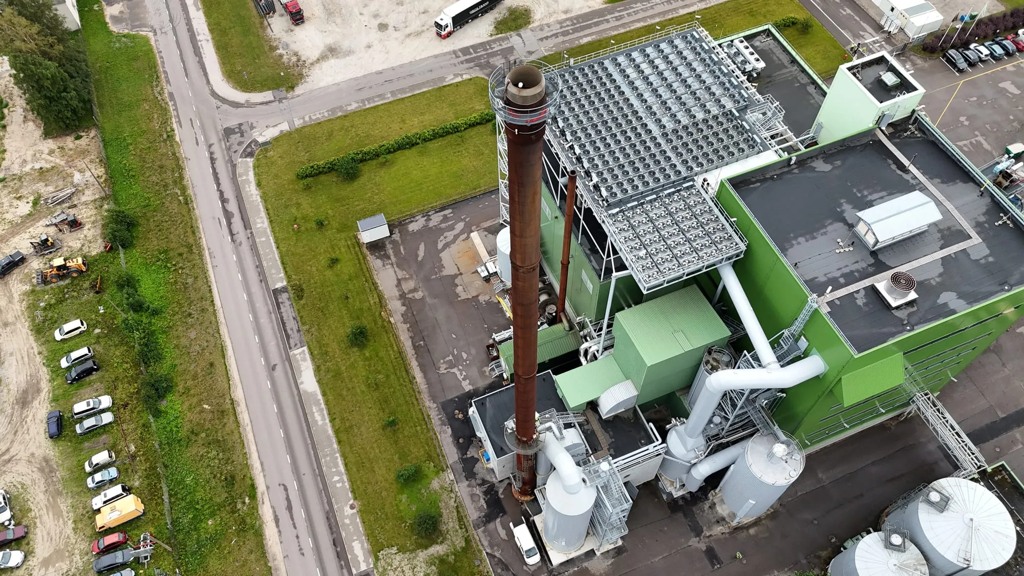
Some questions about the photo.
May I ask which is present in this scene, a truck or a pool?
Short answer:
truck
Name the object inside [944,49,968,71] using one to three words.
car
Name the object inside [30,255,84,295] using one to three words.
work vehicle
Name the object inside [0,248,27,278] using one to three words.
truck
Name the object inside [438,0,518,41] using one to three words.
truck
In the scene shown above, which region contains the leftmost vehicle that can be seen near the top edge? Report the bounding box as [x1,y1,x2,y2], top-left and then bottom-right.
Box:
[271,0,300,22]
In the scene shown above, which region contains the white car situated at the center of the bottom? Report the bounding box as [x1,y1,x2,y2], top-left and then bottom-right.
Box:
[508,519,540,565]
